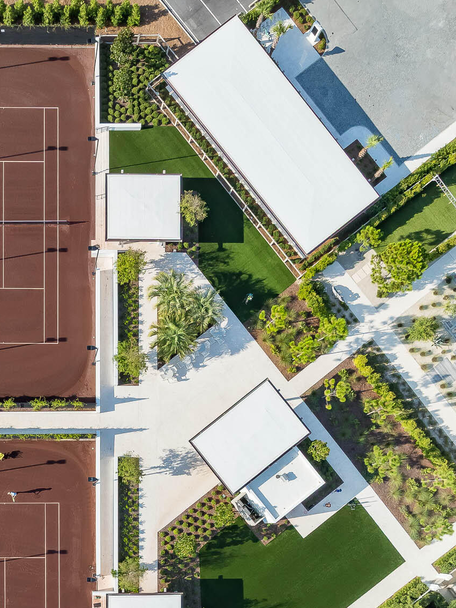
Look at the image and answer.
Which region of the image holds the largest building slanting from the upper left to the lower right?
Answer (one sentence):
The largest building slanting from the upper left to the lower right is located in the top region of the scene.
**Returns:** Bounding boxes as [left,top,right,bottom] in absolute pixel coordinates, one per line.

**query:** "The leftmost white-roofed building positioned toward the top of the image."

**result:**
[106,171,182,251]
